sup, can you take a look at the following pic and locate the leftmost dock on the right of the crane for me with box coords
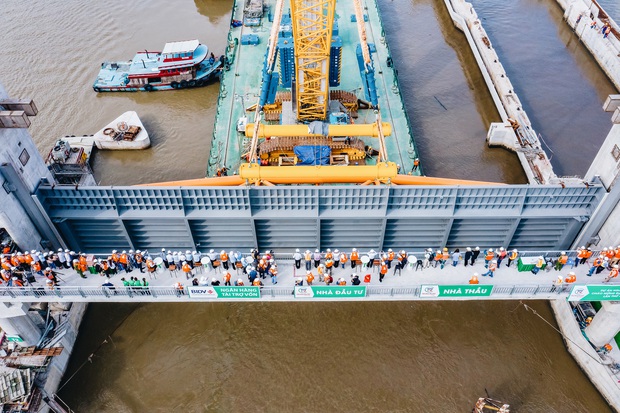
[441,0,560,184]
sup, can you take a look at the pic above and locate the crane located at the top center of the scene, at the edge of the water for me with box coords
[247,0,386,166]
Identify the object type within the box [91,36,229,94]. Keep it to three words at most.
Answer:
boat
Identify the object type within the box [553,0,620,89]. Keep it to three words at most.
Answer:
pier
